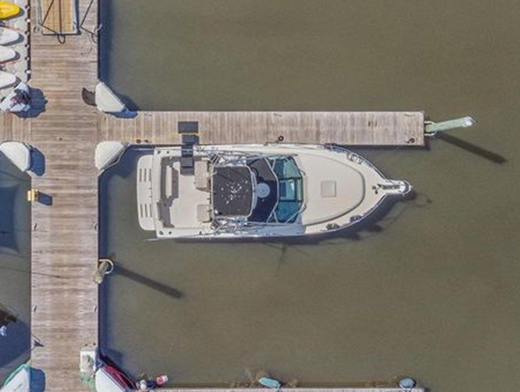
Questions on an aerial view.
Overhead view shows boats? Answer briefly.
Yes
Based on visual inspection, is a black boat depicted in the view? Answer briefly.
Yes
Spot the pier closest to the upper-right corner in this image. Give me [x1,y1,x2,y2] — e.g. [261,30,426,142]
[99,111,438,146]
